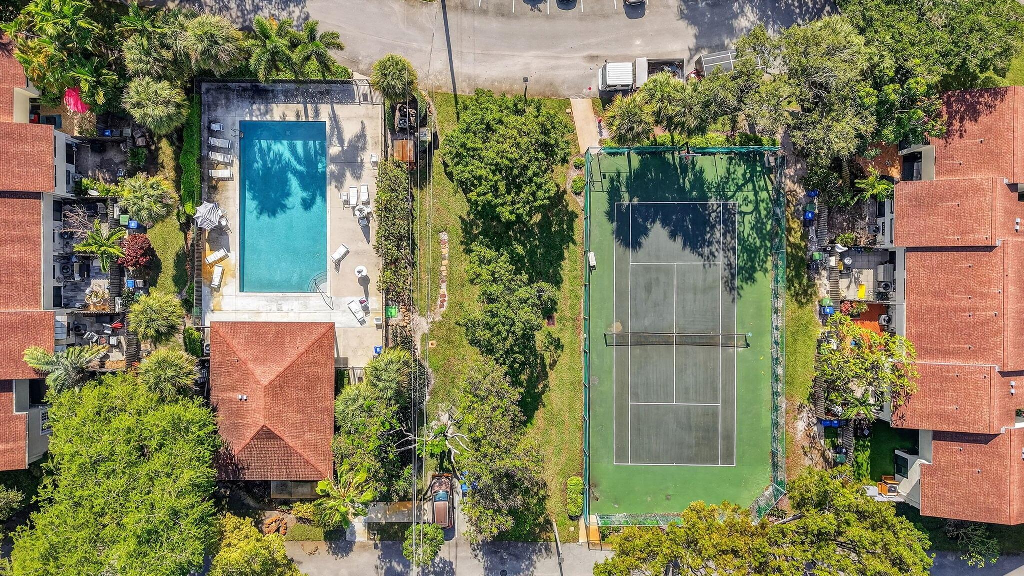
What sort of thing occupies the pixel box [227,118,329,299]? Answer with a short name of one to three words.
swimming pool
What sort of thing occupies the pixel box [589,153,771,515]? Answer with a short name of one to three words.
tennis court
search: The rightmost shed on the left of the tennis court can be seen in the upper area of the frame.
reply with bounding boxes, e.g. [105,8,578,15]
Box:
[394,139,417,165]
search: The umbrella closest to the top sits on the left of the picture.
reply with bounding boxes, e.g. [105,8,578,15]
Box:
[195,201,226,232]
